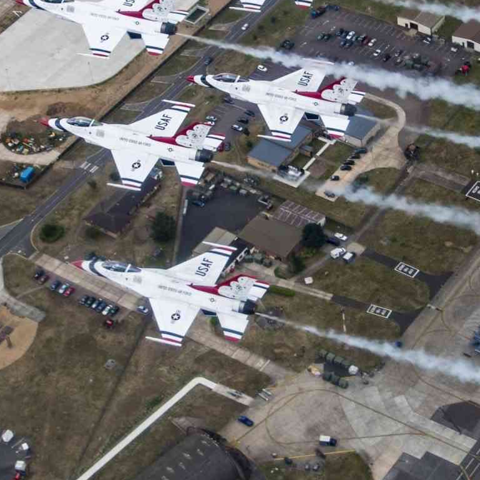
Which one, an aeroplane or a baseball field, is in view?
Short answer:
aeroplane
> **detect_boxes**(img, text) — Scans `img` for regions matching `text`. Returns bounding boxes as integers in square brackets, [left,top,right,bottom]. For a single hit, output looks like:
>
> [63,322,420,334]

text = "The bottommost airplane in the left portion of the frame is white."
[68,241,269,347]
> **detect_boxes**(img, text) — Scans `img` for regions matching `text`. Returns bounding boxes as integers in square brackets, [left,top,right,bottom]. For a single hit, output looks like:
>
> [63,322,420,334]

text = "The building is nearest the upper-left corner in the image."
[83,177,162,239]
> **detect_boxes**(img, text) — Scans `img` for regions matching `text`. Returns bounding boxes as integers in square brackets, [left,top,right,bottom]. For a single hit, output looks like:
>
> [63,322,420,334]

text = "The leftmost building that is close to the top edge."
[397,8,445,34]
